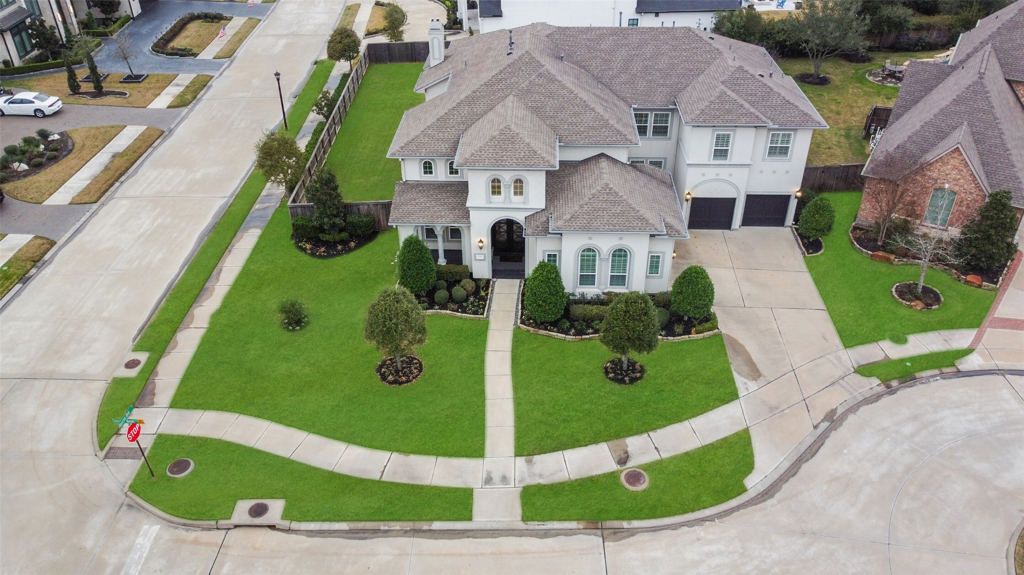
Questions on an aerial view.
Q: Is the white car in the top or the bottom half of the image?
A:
top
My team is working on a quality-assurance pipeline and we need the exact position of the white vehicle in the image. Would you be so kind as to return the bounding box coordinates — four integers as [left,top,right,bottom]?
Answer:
[0,89,63,116]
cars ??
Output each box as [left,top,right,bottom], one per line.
[0,89,63,116]
[0,183,5,197]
